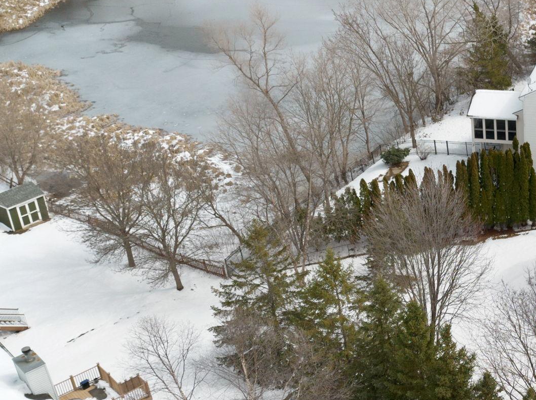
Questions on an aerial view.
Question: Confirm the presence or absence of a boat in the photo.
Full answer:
No, I can't see a single boat in this photo.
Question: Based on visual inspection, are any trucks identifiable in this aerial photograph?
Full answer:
No, there's no truck here.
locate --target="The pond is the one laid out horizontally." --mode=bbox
[0,0,524,212]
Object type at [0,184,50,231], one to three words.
shed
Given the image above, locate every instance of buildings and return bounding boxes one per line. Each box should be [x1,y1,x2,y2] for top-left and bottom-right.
[0,184,50,231]
[0,342,59,400]
[461,63,536,158]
